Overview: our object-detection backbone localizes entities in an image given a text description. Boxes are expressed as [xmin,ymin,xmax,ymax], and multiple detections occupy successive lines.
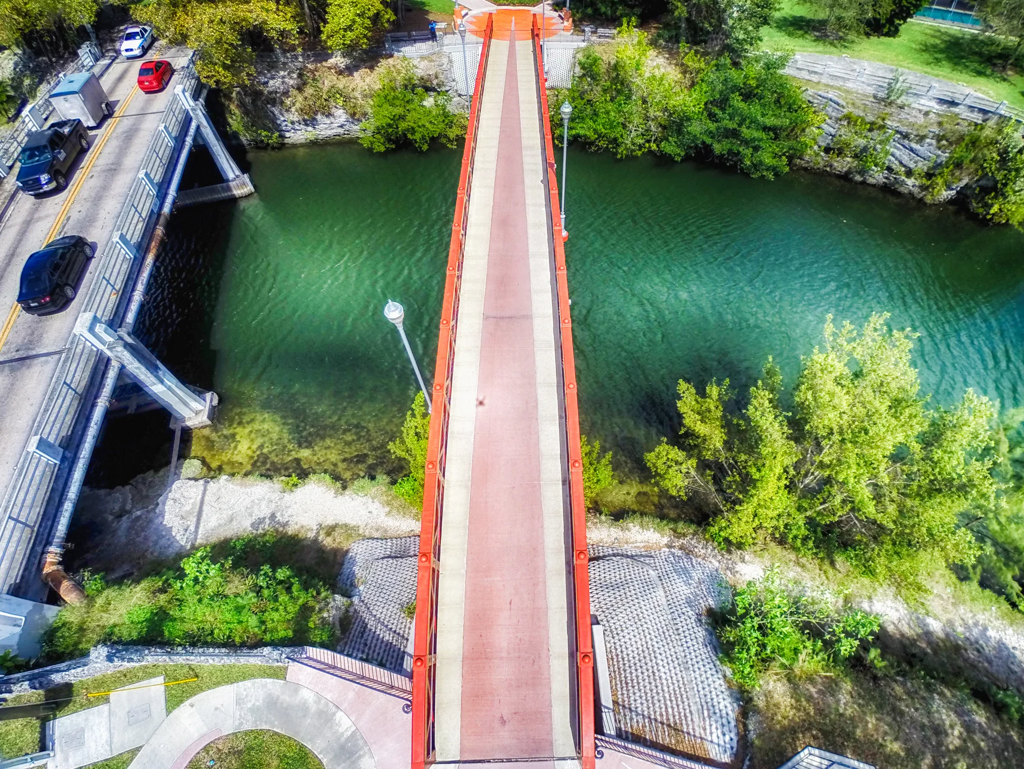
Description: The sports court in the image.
[906,0,998,51]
